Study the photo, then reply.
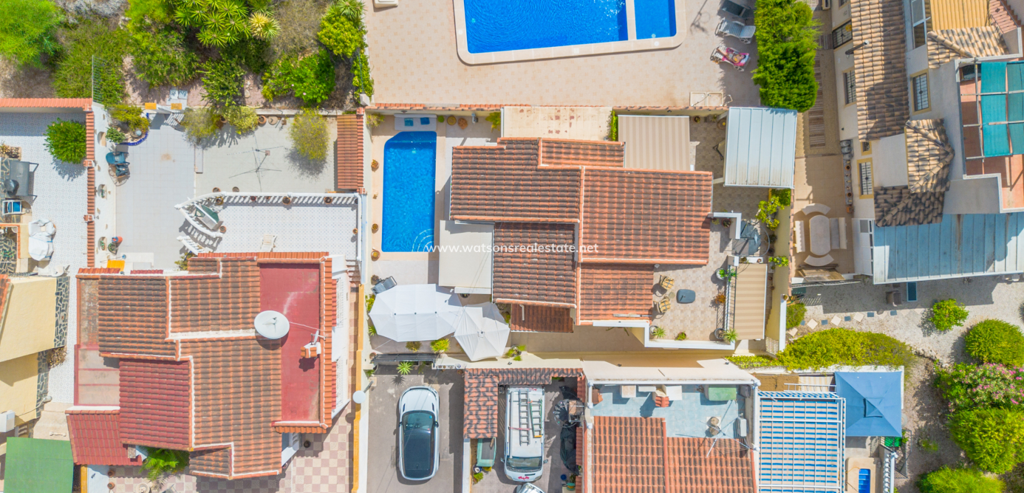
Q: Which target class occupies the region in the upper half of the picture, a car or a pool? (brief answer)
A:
pool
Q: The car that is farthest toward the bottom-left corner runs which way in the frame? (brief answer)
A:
from top to bottom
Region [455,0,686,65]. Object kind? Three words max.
swimming pool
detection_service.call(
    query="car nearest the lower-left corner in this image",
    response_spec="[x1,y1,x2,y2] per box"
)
[395,382,441,481]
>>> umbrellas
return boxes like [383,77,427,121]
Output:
[370,284,463,342]
[833,372,902,437]
[712,143,725,159]
[454,302,509,361]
